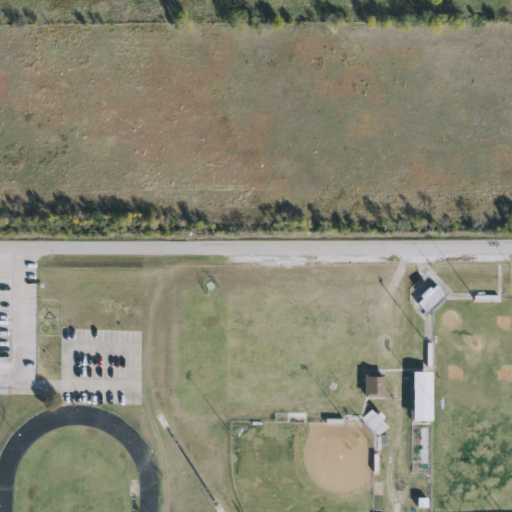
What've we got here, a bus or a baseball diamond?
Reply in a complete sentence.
Looking from above, you can make out a baseball diamond.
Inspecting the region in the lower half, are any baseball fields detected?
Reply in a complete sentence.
Yes, you'll find a baseball field in the lower half.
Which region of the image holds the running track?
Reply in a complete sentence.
The running track appears toward the bottom left of the photo.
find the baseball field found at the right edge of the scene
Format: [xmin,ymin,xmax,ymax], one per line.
[434,303,512,510]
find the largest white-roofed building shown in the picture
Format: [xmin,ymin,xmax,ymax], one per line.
[415,372,436,422]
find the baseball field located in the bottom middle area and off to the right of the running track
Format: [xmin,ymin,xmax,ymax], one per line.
[232,422,374,512]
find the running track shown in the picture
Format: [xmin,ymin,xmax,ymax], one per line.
[0,406,160,512]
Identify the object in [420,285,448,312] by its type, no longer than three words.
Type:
building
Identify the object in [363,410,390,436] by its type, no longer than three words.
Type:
building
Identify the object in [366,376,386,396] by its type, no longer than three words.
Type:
house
